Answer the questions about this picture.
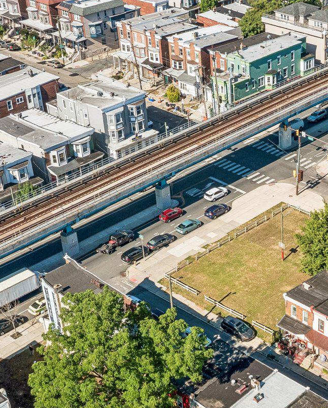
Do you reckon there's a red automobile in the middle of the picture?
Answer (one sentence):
Yes, there is a red automobile in the middle of the picture.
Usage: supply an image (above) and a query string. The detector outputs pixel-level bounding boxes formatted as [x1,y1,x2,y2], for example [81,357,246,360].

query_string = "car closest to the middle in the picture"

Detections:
[156,208,184,224]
